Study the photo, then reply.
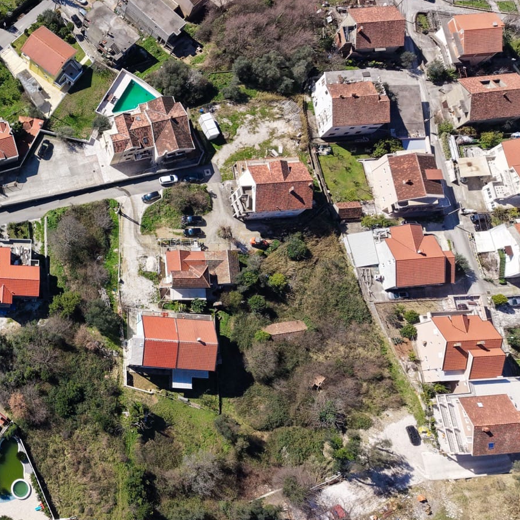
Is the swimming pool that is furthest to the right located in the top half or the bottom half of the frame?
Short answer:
top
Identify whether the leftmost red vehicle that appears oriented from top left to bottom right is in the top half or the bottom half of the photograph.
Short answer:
bottom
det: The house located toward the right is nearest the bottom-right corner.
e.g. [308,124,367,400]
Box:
[428,377,520,456]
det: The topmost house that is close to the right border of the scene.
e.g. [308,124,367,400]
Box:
[435,12,505,65]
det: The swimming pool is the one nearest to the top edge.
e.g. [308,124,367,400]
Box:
[110,78,157,115]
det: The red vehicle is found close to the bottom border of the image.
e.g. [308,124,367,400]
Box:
[328,498,349,520]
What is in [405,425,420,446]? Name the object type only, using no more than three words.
car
